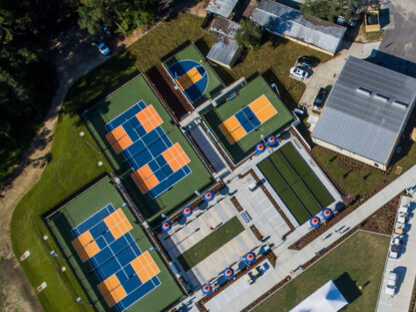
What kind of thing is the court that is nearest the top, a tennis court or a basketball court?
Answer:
basketball court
